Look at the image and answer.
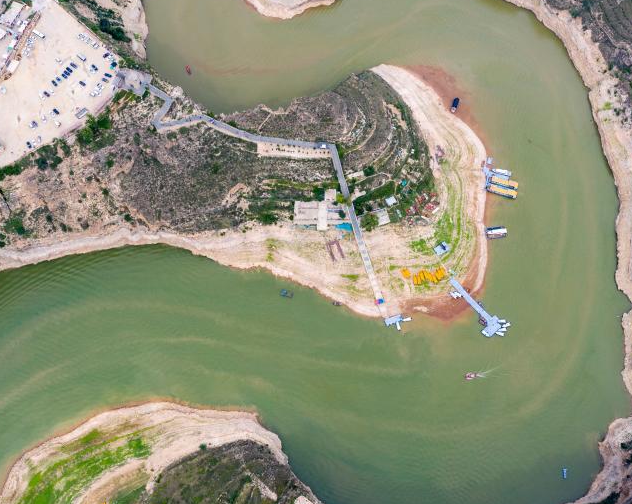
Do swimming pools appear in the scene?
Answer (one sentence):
No, the photo shows no swimming pool.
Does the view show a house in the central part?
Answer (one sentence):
Yes, a house is visible in the central part.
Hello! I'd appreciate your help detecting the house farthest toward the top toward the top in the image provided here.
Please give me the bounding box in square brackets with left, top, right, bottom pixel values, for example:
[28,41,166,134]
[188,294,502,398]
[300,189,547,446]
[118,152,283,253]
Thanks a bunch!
[0,1,26,26]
